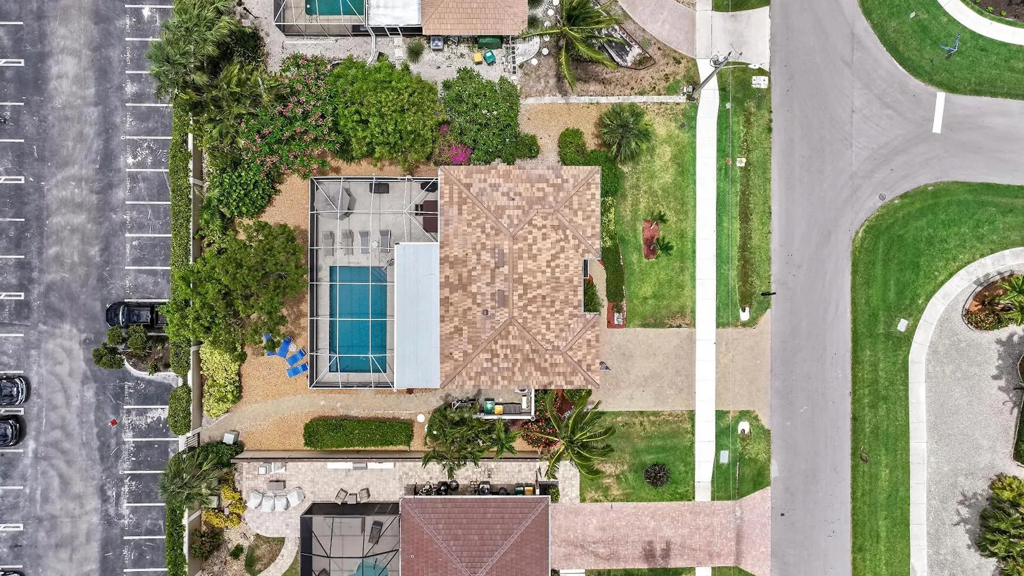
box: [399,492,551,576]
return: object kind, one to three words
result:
house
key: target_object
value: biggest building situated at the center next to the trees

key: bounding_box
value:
[437,164,602,391]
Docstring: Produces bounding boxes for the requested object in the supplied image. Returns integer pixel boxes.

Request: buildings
[421,0,528,42]
[437,164,602,391]
[399,492,551,576]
